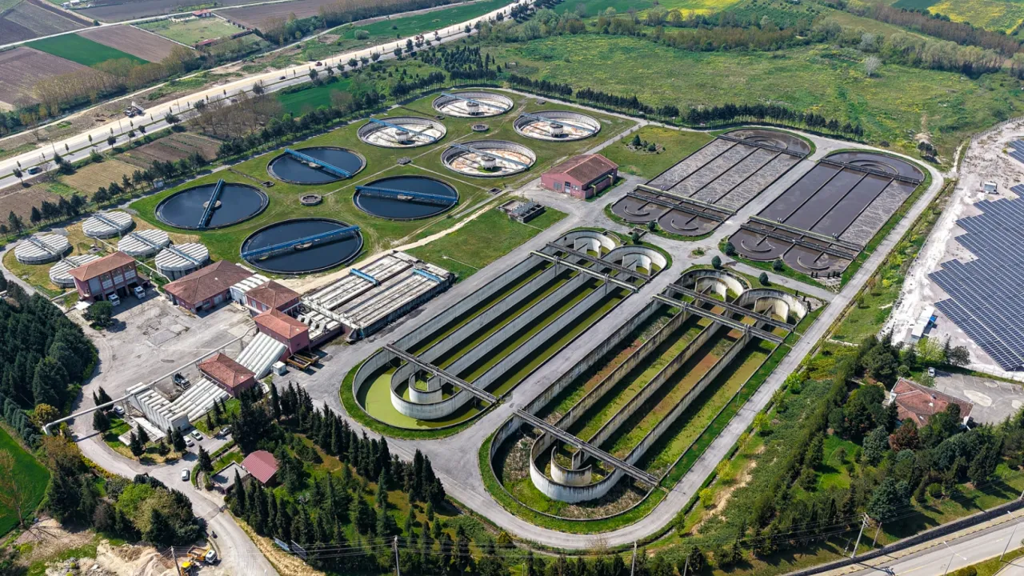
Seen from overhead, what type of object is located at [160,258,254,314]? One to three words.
building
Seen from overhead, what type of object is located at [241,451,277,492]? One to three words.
building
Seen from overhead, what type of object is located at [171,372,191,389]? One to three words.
vehicle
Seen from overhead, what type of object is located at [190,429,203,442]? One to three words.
vehicle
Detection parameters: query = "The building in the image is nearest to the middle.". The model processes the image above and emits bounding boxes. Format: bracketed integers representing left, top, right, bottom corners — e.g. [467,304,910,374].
[542,154,621,200]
